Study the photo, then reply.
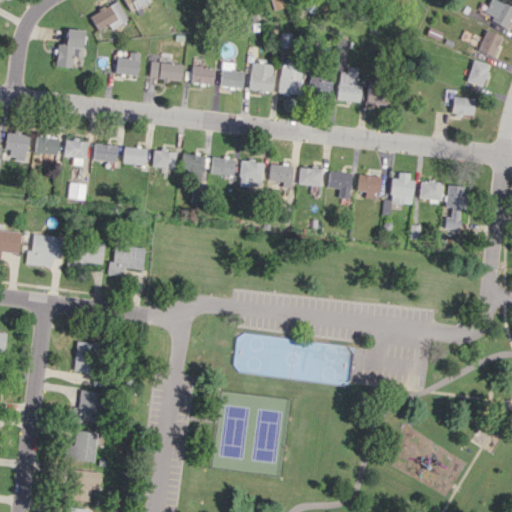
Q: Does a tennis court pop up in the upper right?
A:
No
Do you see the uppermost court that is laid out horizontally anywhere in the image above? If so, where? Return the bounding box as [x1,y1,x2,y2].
[233,332,353,384]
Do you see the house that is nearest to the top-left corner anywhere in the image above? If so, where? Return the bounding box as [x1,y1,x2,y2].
[53,28,90,69]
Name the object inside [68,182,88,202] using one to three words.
building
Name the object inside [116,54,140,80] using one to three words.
house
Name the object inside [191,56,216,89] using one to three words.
house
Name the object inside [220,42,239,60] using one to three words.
swimming pool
